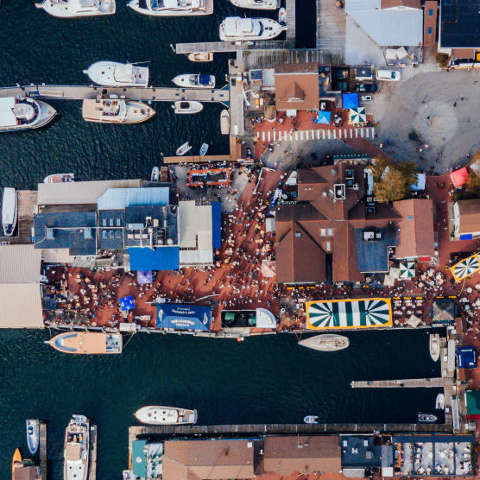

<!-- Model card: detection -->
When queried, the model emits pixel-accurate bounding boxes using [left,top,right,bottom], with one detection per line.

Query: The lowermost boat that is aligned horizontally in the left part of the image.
[133,404,202,423]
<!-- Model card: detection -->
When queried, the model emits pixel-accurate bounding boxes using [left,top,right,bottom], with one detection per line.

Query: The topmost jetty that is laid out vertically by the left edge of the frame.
[18,190,34,233]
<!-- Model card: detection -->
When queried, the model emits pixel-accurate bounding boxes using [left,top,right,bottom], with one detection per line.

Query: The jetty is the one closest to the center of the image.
[164,136,244,165]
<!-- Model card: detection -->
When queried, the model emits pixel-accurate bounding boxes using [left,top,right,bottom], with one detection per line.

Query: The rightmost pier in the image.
[440,331,456,434]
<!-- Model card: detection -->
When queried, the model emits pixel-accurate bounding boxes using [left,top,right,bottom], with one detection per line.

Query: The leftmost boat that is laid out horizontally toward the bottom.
[43,331,125,353]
